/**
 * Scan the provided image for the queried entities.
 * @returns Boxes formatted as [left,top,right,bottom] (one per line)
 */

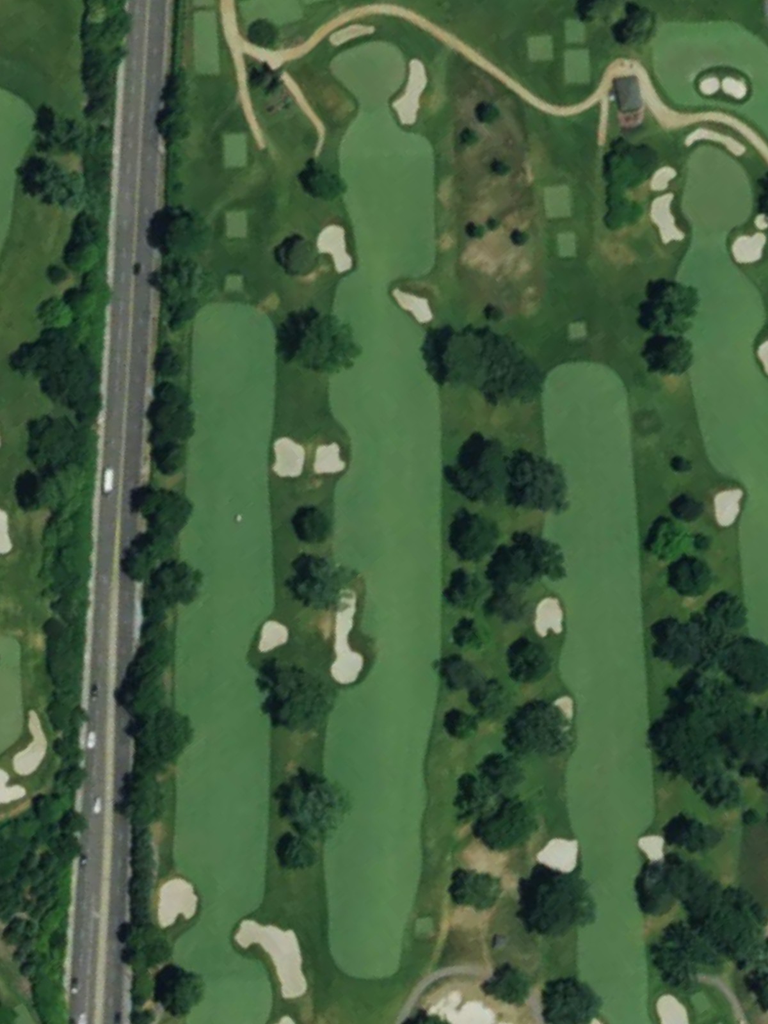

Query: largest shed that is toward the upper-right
[616,74,642,110]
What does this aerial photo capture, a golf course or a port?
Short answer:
golf course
